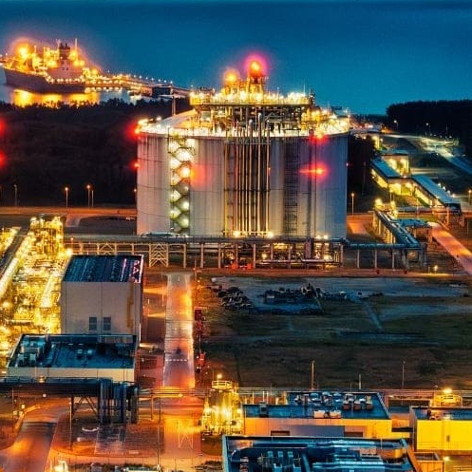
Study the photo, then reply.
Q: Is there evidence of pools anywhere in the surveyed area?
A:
No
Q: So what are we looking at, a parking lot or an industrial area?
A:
industrial area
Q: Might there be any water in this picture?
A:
Yes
